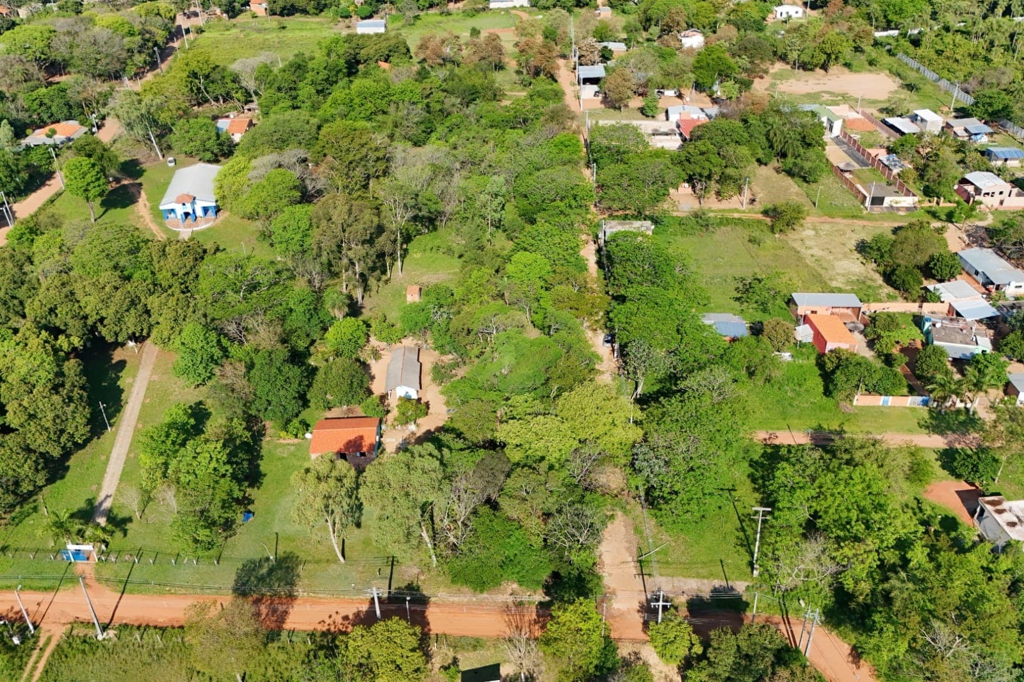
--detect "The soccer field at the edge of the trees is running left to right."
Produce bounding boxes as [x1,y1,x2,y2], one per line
[784,70,902,98]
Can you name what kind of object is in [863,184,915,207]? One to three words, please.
building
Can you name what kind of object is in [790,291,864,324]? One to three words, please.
house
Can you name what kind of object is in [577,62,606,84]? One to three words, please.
barn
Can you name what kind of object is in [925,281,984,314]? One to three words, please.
shed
